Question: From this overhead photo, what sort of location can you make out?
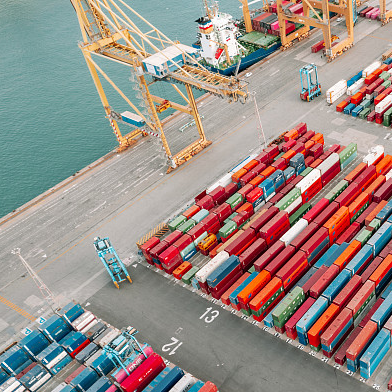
port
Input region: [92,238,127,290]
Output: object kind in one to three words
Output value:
work vehicle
